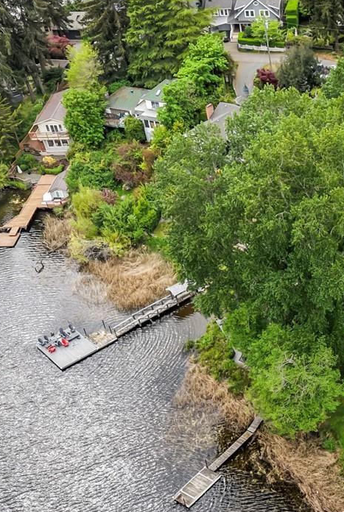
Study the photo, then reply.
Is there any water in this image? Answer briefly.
Yes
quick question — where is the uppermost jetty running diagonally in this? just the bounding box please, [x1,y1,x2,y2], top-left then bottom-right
[3,175,51,239]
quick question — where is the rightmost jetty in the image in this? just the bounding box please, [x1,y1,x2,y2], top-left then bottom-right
[173,417,259,510]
